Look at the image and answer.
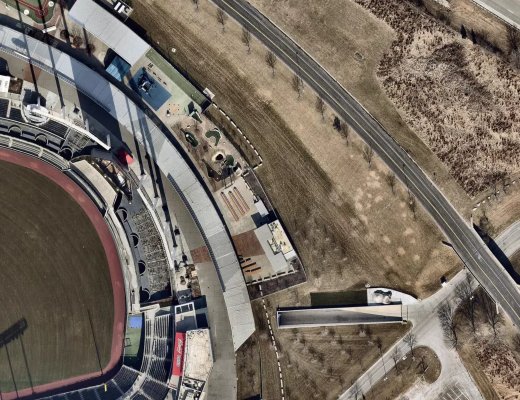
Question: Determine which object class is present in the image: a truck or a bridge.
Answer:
bridge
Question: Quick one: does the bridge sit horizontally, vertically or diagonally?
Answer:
diagonally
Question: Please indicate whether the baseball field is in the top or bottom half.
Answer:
bottom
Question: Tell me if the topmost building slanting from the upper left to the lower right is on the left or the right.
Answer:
left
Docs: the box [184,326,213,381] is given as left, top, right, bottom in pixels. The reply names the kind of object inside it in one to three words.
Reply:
building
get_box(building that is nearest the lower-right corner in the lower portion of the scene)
[254,220,297,271]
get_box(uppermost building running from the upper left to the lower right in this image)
[69,0,151,66]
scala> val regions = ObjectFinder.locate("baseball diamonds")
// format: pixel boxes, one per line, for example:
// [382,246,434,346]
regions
[0,148,127,400]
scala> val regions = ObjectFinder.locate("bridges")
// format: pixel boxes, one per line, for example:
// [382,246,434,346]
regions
[441,214,512,315]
